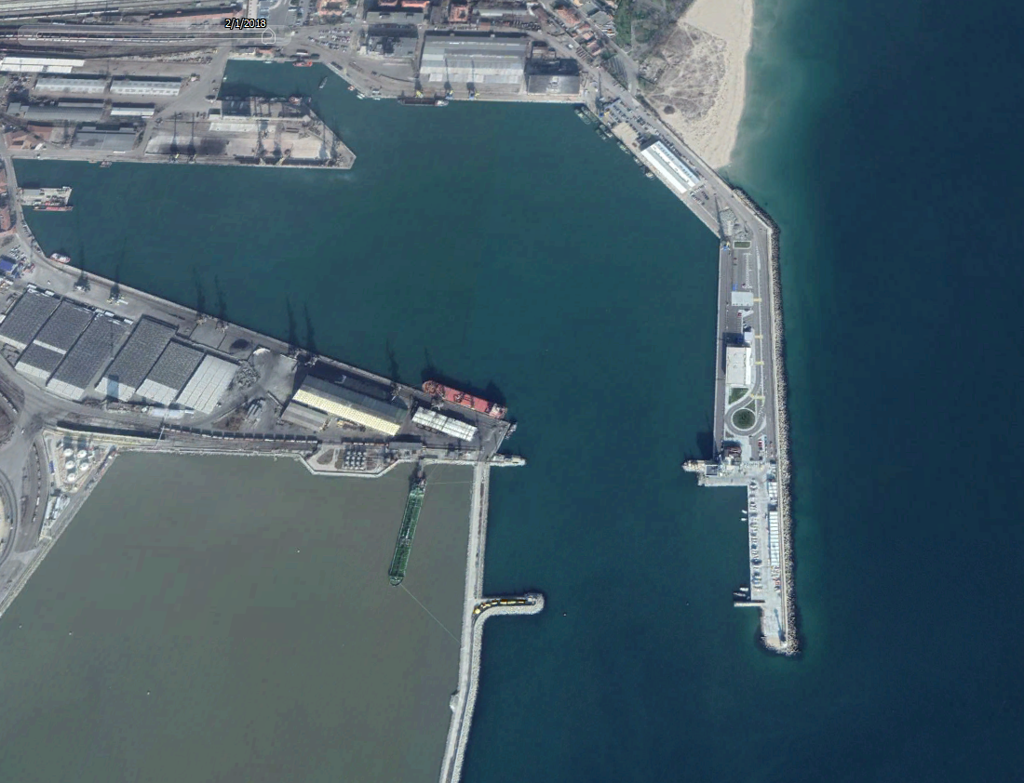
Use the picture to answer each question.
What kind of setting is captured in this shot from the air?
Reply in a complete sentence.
What you see here is a port.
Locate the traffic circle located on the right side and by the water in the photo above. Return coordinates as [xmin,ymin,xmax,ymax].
[723,367,765,440]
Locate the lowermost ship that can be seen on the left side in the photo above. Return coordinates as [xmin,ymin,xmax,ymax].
[390,476,426,586]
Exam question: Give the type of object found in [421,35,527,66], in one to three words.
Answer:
building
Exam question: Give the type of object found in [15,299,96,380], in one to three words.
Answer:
building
